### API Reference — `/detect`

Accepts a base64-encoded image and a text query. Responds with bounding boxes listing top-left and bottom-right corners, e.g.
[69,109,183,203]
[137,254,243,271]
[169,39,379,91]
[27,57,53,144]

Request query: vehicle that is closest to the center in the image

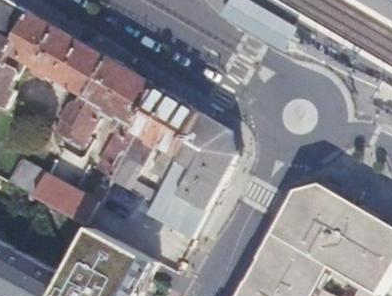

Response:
[203,67,224,84]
